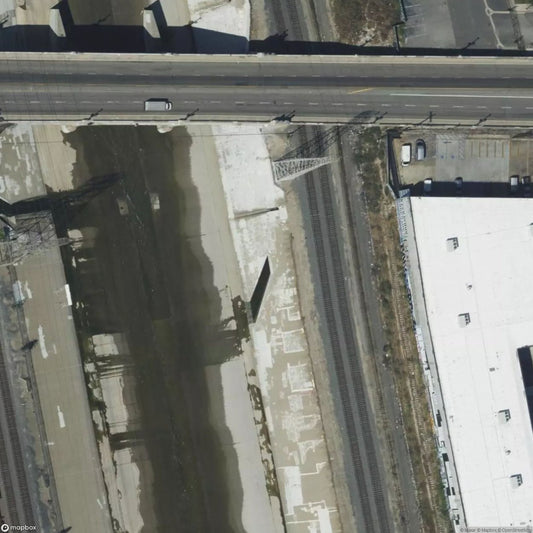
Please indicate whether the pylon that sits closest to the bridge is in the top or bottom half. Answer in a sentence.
The top half of the photo is where the pylon that sits closest to the bridge is.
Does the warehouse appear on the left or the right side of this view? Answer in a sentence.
The warehouse sits on the right side.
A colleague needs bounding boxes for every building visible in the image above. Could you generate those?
[395,196,533,533]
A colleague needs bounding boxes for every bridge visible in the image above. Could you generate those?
[0,7,533,135]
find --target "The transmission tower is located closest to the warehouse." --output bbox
[275,159,356,182]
